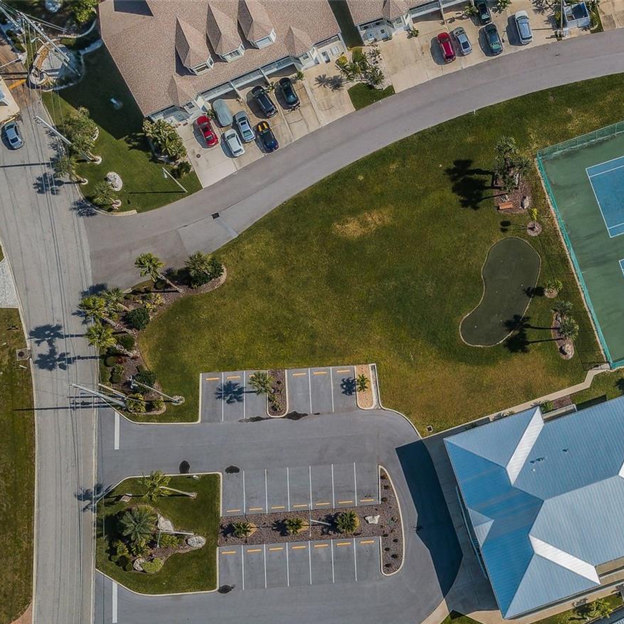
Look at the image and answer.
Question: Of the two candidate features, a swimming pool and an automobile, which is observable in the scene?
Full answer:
It is an automobile that can be seen here.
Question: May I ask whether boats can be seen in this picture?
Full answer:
No, the photo shows no boat.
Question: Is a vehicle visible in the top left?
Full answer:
Yes, in the top left there is a vehicle.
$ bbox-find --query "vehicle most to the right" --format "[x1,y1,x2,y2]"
[516,11,532,45]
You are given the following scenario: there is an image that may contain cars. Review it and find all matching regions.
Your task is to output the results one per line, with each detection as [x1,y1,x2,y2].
[278,77,299,108]
[198,121,217,146]
[516,11,532,45]
[474,0,491,25]
[4,120,25,151]
[236,112,255,142]
[484,25,502,56]
[257,123,277,154]
[453,27,471,56]
[225,129,245,159]
[254,87,274,119]
[437,32,455,63]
